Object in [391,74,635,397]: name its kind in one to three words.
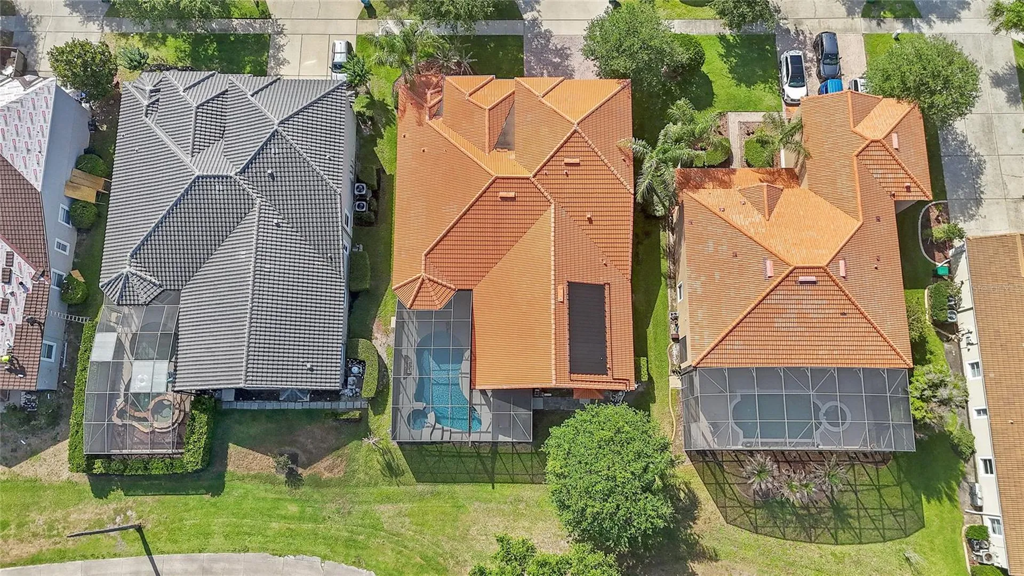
house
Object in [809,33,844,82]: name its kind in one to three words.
car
